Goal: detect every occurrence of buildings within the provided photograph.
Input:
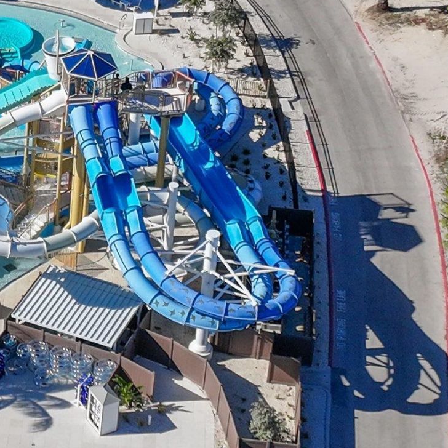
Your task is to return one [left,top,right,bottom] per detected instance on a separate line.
[10,263,143,378]
[87,381,121,436]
